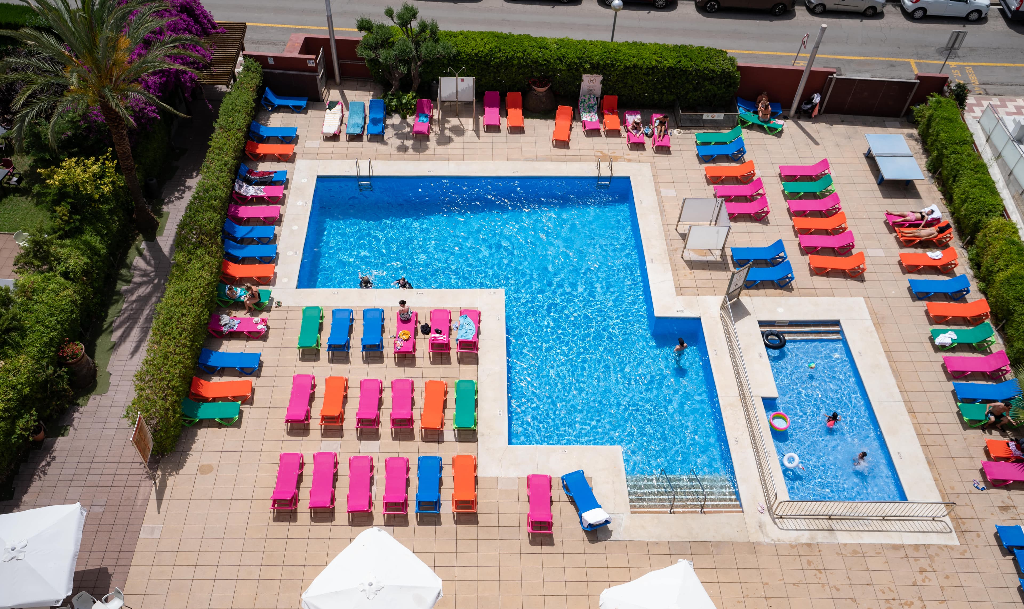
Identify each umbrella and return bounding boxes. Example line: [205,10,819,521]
[595,556,718,609]
[0,500,86,609]
[297,527,449,609]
